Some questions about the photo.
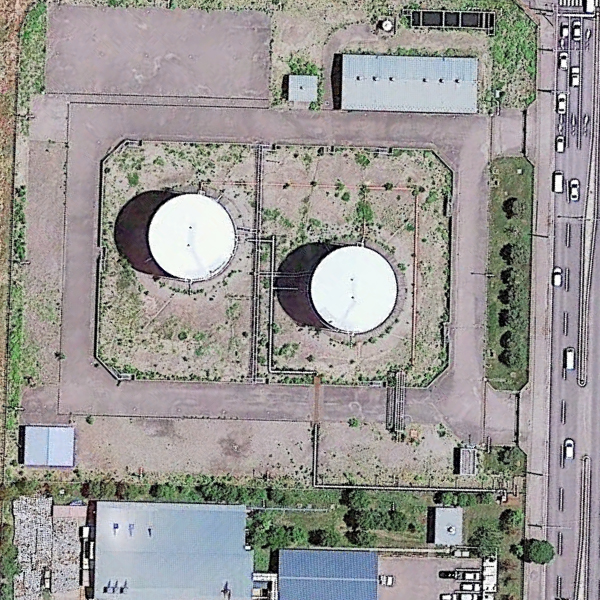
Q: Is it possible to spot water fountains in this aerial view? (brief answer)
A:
No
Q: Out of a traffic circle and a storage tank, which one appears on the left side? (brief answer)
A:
storage tank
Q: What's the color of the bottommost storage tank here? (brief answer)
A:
white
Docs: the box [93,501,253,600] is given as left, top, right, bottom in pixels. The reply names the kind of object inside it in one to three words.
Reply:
building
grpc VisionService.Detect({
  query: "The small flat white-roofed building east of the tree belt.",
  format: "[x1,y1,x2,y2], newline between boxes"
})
[435,507,462,545]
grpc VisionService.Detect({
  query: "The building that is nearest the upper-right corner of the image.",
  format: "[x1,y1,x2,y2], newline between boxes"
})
[342,54,478,114]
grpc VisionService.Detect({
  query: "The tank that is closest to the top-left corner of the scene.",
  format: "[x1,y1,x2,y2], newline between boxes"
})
[144,188,243,286]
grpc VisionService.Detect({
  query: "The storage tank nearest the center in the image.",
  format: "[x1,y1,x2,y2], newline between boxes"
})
[304,240,403,338]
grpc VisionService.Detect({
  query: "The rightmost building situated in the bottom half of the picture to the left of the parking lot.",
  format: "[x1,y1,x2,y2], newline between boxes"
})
[278,549,378,600]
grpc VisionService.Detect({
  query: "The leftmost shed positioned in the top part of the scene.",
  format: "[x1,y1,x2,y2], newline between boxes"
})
[289,74,317,102]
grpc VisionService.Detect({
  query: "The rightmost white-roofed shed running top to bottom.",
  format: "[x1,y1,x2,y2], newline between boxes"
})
[483,558,497,592]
